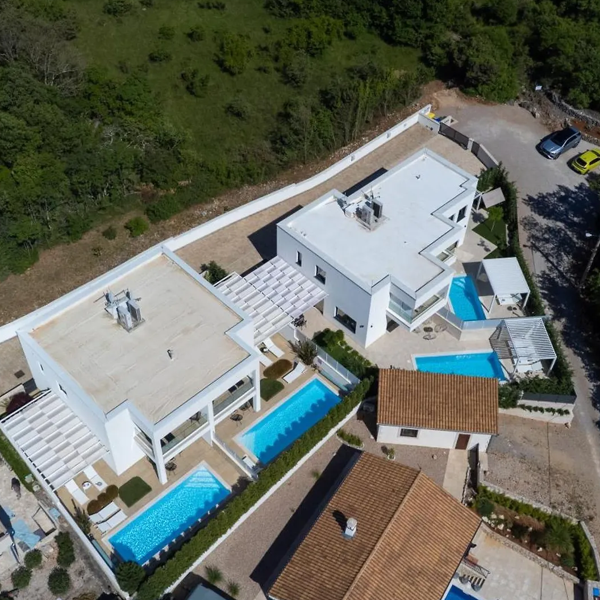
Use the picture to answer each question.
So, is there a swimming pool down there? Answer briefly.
Yes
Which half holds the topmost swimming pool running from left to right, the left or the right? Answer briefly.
right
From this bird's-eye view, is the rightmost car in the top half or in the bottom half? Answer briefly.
top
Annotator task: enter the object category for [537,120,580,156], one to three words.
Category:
car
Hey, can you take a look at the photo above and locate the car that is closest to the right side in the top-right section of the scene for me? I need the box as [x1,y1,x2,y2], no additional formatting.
[570,143,600,172]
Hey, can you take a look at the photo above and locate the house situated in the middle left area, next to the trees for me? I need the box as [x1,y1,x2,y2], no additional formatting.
[17,246,259,482]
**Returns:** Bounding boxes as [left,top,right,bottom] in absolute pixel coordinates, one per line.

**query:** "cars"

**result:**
[570,143,600,172]
[537,120,580,156]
